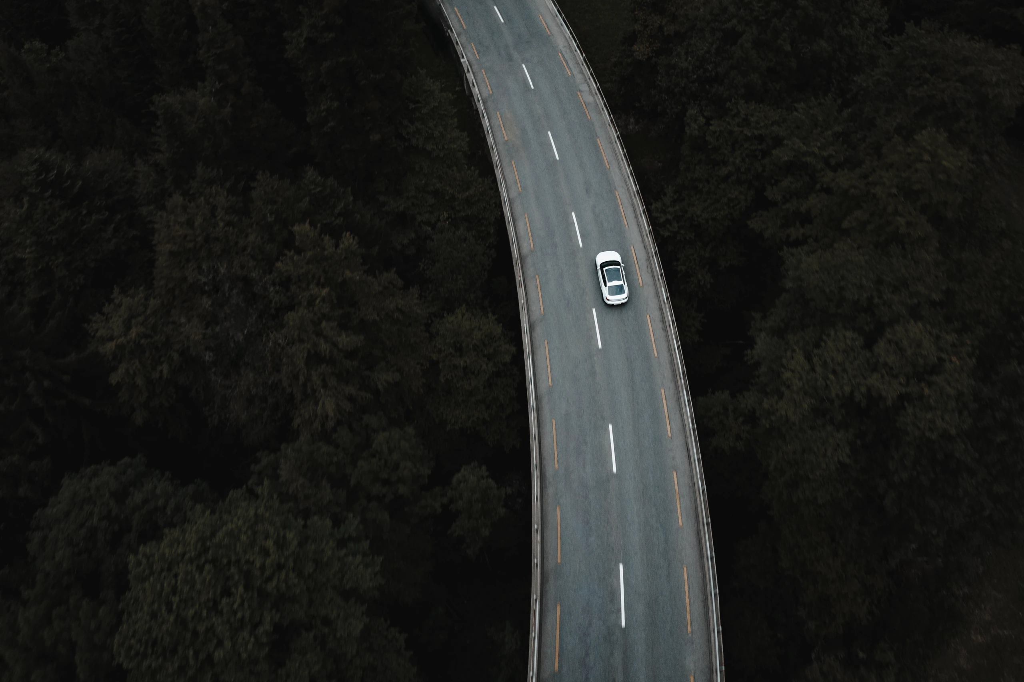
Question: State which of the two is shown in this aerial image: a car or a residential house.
car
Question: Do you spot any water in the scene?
No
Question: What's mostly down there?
trees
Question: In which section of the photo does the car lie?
center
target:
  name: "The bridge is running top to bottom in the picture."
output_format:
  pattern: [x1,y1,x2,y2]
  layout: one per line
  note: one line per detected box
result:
[439,0,726,682]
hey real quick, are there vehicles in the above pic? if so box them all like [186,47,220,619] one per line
[595,251,629,307]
